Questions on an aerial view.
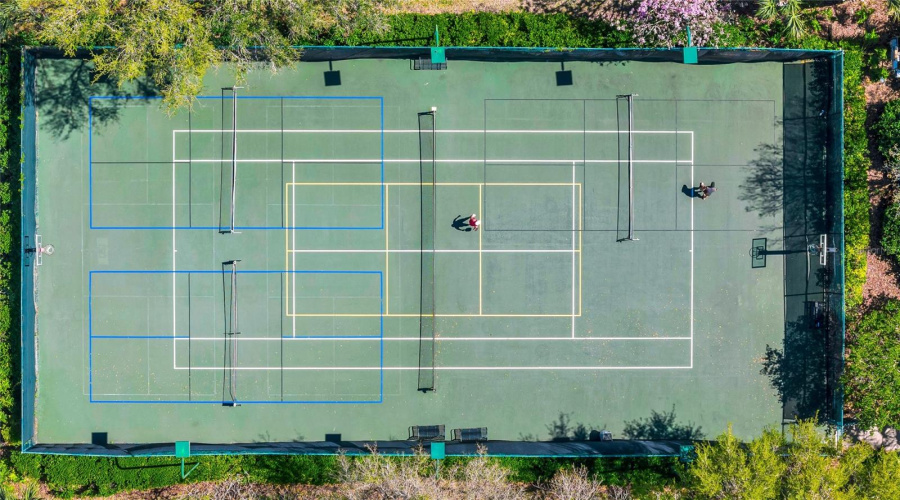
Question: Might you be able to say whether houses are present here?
No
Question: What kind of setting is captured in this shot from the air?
sports ground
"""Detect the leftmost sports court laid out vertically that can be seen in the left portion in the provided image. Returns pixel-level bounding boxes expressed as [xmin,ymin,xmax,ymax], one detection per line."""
[82,106,214,395]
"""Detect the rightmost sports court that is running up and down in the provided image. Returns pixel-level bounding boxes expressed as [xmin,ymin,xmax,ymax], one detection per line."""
[266,106,400,395]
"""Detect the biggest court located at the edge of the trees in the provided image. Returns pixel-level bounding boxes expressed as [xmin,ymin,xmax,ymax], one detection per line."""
[38,57,829,446]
